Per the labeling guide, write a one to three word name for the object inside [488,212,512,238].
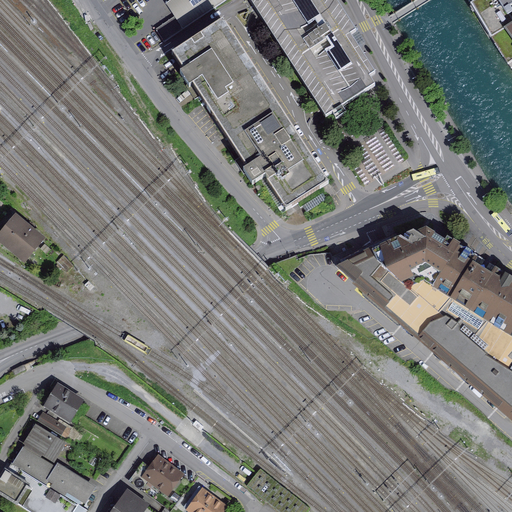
bus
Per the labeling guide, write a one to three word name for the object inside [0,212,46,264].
house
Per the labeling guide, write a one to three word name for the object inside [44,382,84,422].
house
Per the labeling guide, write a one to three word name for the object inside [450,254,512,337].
building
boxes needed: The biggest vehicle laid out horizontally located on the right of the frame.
[410,167,440,180]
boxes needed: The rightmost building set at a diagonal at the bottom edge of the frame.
[246,468,311,512]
